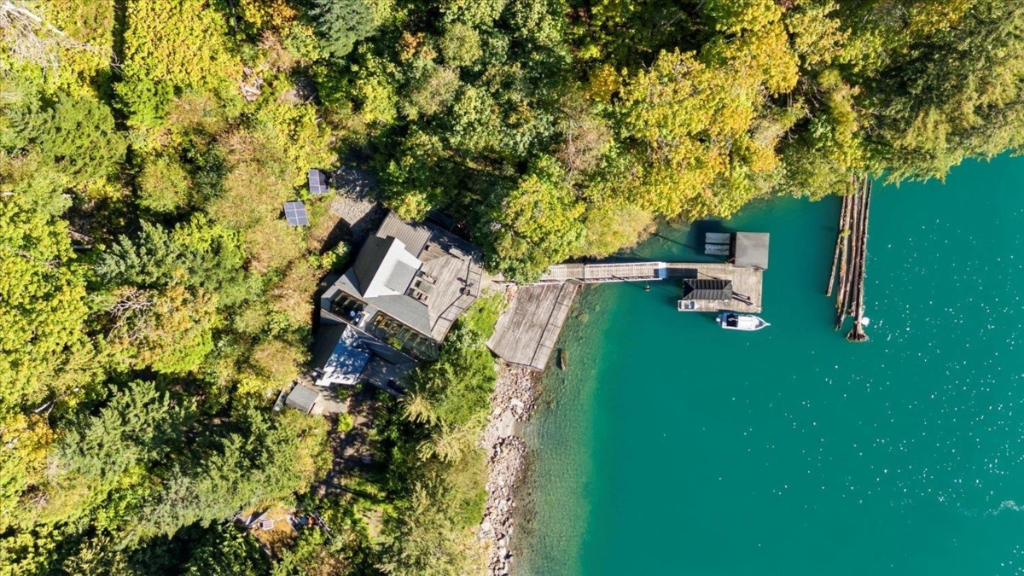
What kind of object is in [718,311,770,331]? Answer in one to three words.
boat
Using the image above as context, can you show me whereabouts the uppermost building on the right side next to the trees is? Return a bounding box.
[727,232,769,269]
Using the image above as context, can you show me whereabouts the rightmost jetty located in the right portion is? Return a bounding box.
[667,262,762,313]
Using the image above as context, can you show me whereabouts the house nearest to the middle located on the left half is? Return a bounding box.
[311,211,439,396]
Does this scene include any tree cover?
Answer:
Yes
